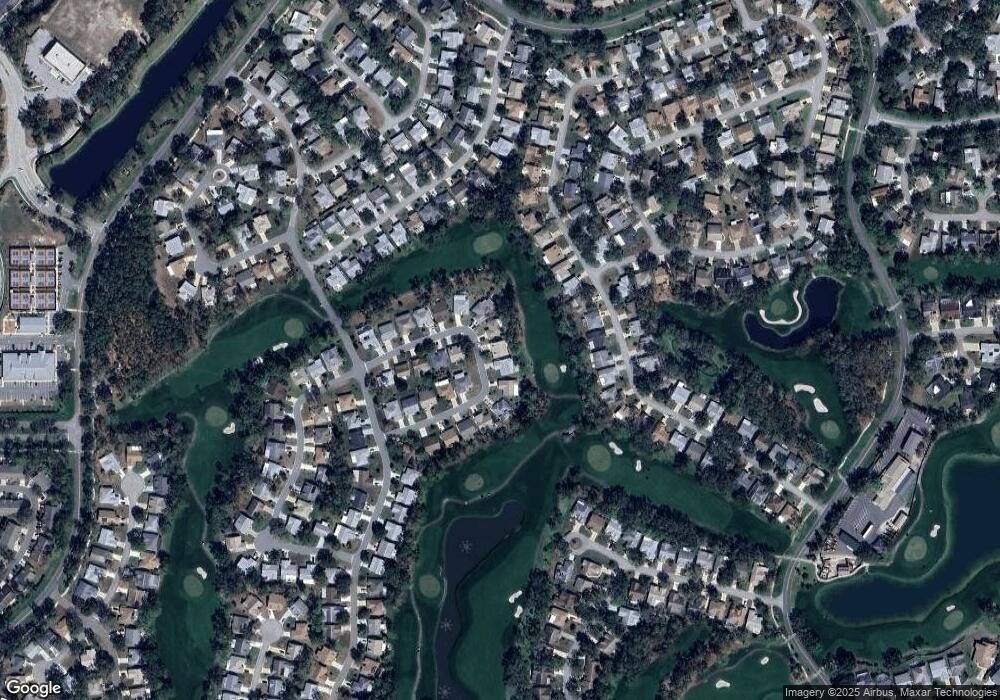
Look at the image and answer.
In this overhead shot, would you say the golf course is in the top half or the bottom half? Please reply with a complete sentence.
Seen from above, the golf course lies in the bottom half of the view.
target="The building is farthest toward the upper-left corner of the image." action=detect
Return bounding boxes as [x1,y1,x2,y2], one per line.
[42,42,87,81]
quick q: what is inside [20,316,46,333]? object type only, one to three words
building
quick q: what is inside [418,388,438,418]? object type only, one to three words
house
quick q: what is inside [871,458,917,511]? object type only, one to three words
building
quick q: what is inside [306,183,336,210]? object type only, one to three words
house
